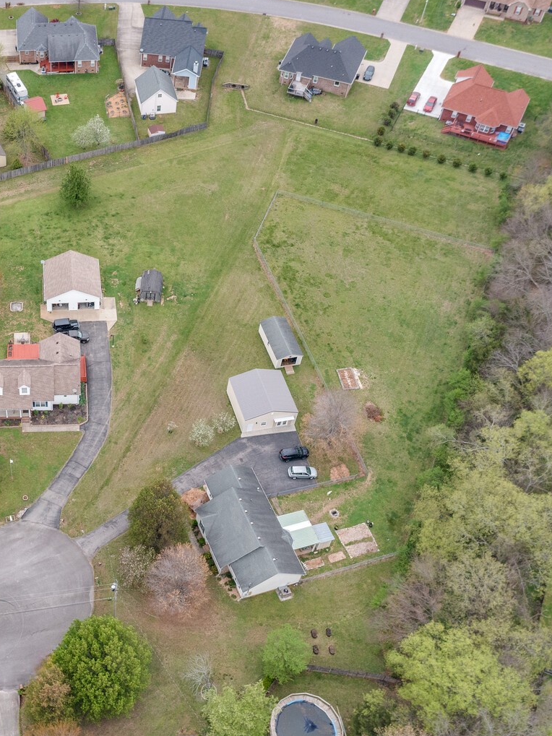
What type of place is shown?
residential area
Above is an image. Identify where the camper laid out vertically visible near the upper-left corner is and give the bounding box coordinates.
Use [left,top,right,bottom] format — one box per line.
[8,73,26,108]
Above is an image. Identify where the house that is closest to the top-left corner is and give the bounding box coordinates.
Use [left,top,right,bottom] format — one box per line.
[15,5,96,71]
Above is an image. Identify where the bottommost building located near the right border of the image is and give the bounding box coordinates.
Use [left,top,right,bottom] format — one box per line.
[439,65,534,135]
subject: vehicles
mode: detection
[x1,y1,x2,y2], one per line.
[53,317,80,331]
[59,328,90,344]
[424,97,436,112]
[406,94,420,107]
[8,73,26,108]
[278,446,310,462]
[287,465,318,480]
[362,65,373,79]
